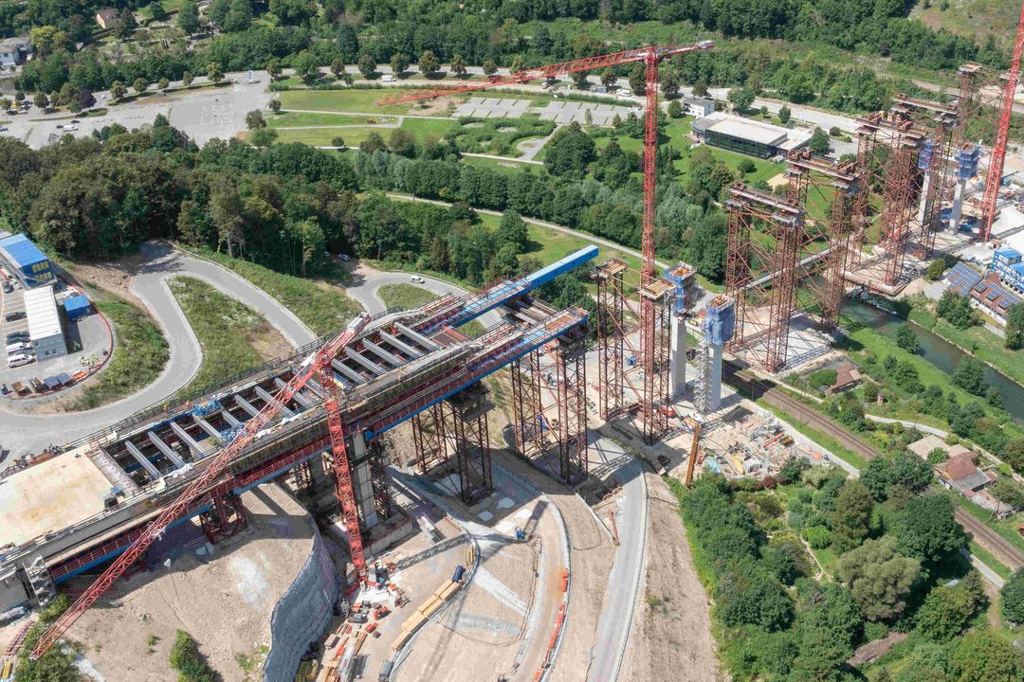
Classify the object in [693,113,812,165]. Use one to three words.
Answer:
building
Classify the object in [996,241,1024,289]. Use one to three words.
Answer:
building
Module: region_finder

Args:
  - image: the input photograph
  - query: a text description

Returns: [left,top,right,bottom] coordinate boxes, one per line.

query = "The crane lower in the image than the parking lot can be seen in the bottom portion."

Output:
[27,310,375,661]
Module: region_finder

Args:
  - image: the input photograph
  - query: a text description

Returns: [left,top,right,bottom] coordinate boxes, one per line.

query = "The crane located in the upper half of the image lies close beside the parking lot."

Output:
[381,40,715,425]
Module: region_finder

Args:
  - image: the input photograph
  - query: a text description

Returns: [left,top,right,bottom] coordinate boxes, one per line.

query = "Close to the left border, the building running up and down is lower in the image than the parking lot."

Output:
[31,281,71,360]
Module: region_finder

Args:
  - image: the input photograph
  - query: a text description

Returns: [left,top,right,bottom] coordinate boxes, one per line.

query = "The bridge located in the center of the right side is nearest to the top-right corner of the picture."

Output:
[844,256,952,303]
